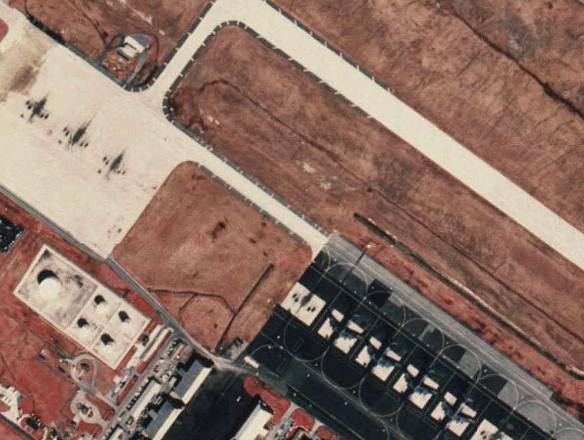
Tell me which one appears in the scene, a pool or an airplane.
airplane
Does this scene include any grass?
Yes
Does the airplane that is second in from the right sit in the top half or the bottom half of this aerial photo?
bottom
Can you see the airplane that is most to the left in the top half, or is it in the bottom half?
bottom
